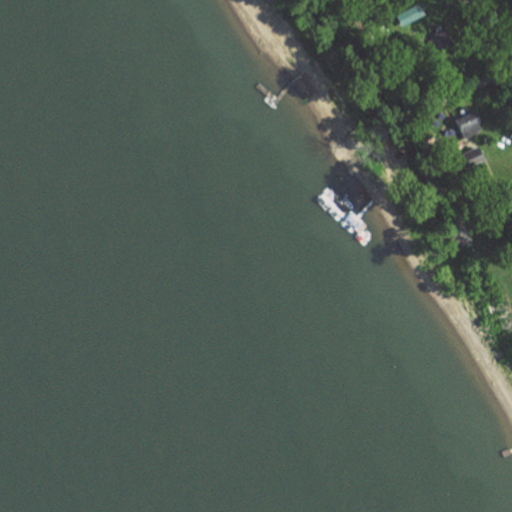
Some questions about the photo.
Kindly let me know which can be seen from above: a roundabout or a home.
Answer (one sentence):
Looking from above, you can make out a home.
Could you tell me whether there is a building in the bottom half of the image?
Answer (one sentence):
No, no building appears in the bottom half of the image.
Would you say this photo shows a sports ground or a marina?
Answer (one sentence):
It's a marina.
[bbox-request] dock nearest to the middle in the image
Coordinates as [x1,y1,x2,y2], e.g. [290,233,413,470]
[319,186,374,233]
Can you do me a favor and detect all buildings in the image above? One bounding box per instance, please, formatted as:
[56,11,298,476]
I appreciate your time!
[459,112,484,138]
[400,4,427,26]
[466,146,487,166]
